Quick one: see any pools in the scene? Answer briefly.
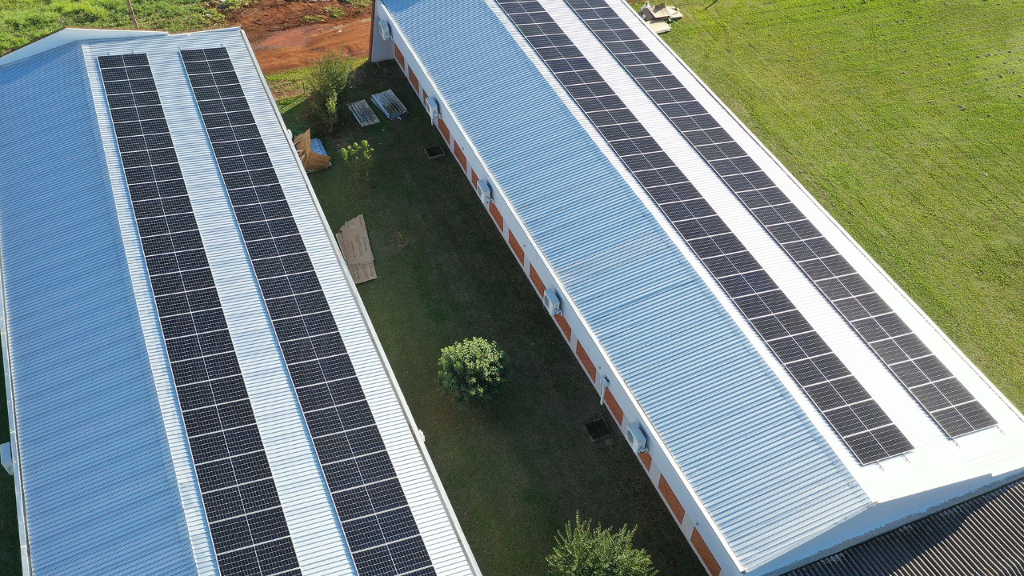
No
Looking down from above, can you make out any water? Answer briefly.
No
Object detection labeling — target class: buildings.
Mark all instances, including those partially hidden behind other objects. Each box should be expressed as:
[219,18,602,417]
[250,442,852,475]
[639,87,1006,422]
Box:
[0,25,482,576]
[370,0,1024,576]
